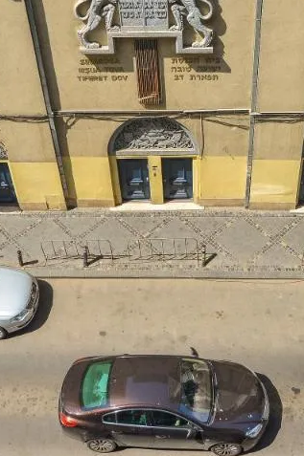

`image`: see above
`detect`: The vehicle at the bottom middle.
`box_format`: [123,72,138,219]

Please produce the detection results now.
[57,343,270,456]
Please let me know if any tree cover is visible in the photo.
No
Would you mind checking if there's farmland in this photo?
No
